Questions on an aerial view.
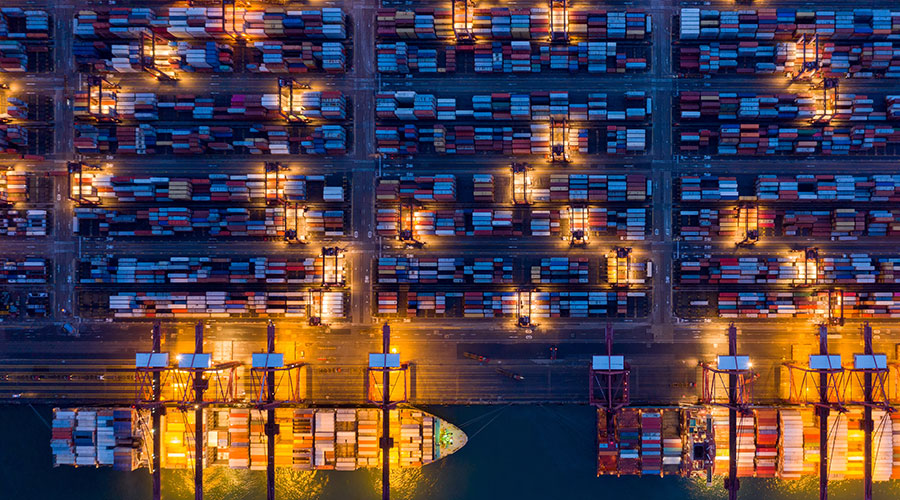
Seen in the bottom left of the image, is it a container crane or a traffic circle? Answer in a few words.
container crane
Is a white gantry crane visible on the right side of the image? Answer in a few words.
No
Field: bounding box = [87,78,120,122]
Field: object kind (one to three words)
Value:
container crane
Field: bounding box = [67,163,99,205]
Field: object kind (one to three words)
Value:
container crane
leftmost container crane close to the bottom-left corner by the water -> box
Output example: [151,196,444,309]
[128,322,195,500]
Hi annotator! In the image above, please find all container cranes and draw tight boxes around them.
[173,322,246,500]
[567,203,588,243]
[365,322,422,500]
[817,287,843,326]
[831,322,889,500]
[811,78,837,122]
[221,0,250,42]
[794,34,818,80]
[795,248,819,286]
[265,163,291,205]
[784,322,845,500]
[284,203,309,243]
[700,322,754,500]
[67,163,99,205]
[452,0,475,42]
[514,287,536,326]
[278,78,304,122]
[249,322,313,500]
[128,322,195,500]
[308,287,333,326]
[87,78,120,122]
[398,203,421,243]
[548,118,570,162]
[323,248,348,286]
[141,34,171,80]
[584,322,631,441]
[611,248,633,286]
[511,163,533,205]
